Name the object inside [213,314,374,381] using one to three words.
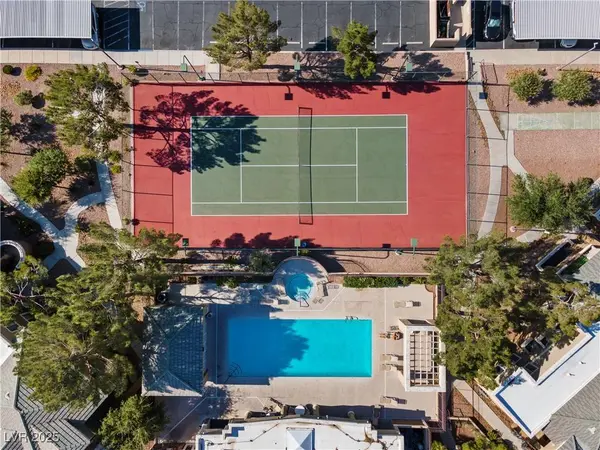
swimming pool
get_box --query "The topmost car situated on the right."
[480,0,503,43]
